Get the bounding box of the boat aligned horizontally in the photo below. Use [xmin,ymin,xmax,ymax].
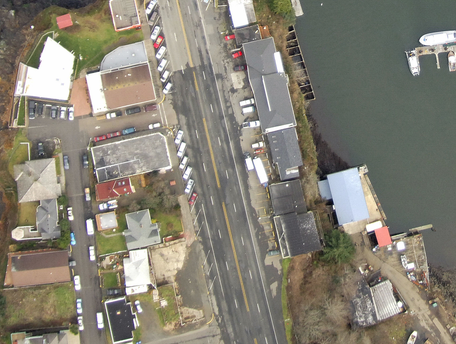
[419,30,456,44]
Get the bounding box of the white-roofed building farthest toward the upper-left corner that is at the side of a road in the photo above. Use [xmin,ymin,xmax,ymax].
[14,38,76,102]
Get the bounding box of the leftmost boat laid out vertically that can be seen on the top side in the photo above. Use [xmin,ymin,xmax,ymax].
[406,50,419,75]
